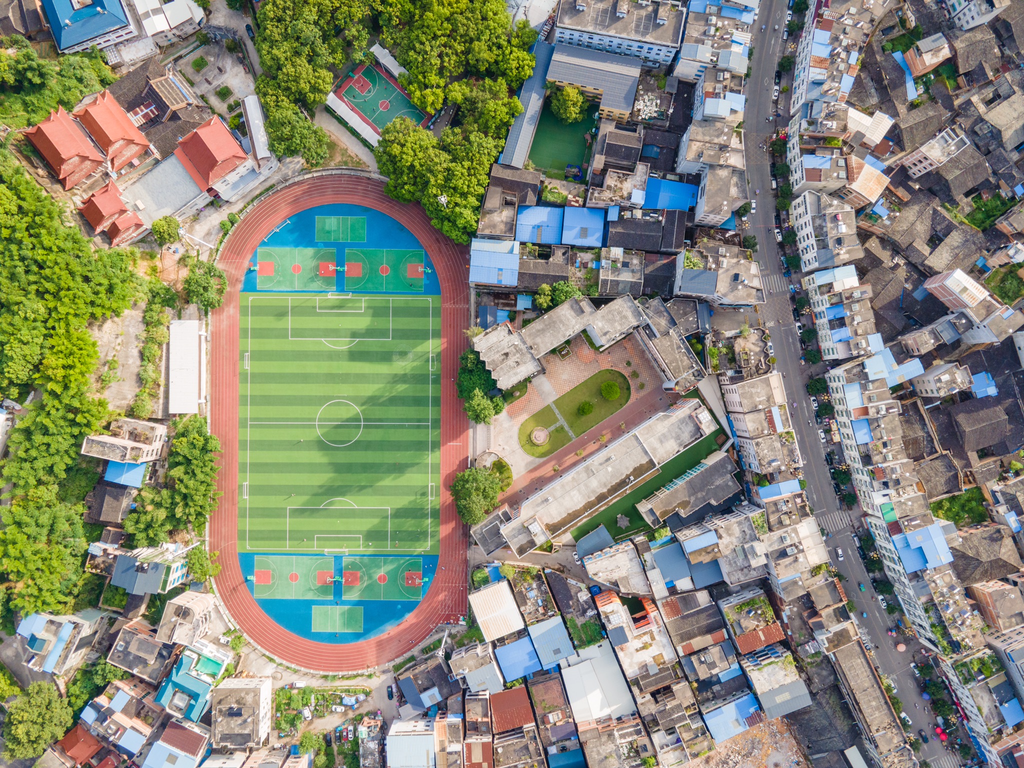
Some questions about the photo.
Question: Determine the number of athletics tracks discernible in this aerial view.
1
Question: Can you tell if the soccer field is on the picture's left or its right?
left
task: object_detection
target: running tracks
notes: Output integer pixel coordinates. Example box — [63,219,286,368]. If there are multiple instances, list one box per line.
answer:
[209,174,469,673]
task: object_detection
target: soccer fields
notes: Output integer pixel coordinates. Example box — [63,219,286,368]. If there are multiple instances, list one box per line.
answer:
[238,292,441,555]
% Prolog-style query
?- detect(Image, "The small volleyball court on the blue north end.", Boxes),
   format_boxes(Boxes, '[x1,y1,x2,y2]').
[315,216,366,242]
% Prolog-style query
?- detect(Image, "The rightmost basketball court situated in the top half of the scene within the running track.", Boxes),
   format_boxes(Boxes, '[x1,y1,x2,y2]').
[345,248,424,292]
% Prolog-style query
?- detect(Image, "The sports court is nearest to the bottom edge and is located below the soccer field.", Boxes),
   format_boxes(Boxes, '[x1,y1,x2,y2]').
[312,606,363,632]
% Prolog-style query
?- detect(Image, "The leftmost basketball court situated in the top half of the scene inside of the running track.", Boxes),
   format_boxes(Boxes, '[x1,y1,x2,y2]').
[257,248,336,290]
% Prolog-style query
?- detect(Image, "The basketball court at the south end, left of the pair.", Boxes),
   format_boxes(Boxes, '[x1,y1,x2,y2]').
[254,556,333,600]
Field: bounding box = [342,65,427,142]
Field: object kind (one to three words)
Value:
basketball court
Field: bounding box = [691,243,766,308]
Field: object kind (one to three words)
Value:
building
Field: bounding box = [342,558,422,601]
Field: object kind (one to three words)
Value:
basketball court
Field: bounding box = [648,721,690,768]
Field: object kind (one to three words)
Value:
house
